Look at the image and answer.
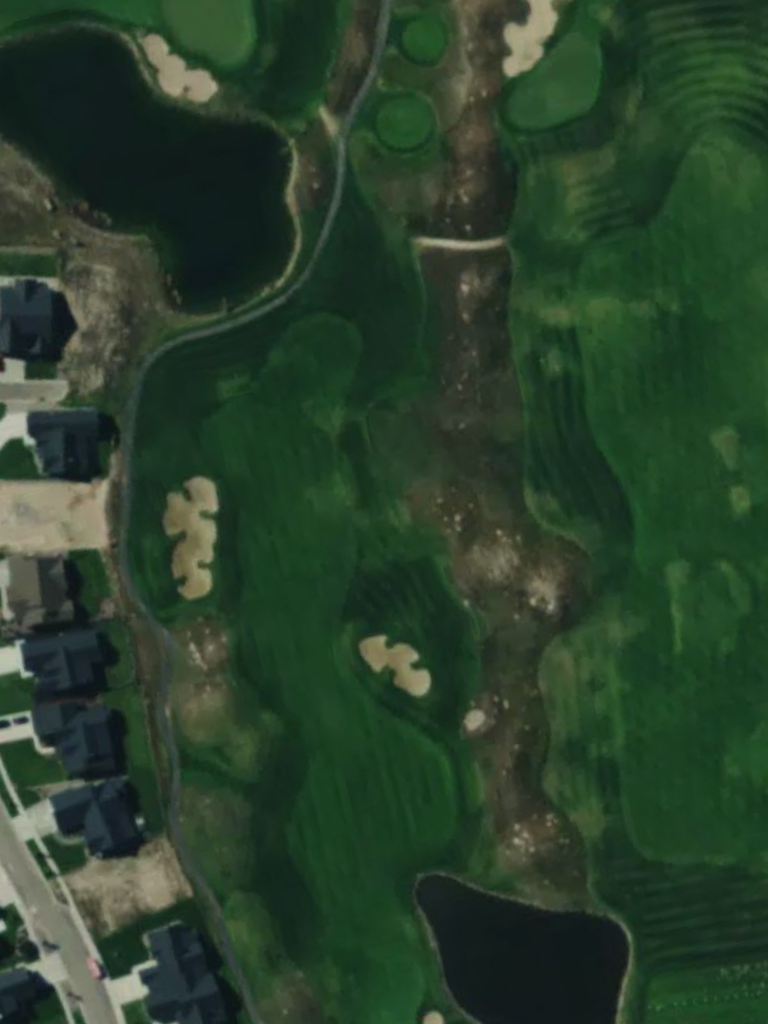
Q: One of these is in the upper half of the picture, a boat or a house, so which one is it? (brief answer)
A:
house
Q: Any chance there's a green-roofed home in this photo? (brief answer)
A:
No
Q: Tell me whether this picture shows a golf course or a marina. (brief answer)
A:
golf course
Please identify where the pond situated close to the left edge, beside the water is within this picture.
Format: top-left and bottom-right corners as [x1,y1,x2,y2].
[0,26,296,313]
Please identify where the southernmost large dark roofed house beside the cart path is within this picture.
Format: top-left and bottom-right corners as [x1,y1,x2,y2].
[137,921,224,1024]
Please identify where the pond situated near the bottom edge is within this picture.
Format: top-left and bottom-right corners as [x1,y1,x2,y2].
[416,874,630,1024]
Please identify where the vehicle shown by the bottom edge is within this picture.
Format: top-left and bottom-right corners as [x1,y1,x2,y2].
[86,956,102,978]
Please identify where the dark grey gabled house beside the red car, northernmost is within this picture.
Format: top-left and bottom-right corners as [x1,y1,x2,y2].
[0,278,56,359]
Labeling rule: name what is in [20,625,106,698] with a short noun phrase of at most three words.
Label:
house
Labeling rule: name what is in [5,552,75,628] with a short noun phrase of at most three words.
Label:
house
